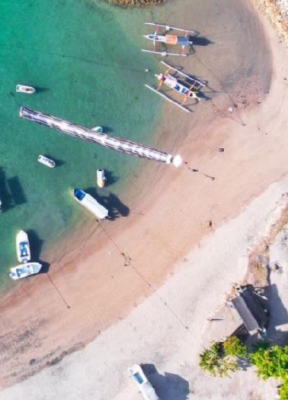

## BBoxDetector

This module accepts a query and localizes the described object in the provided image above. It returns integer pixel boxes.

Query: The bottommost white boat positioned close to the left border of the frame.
[10,264,42,280]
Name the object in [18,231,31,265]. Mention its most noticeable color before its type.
white boat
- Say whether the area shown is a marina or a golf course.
marina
